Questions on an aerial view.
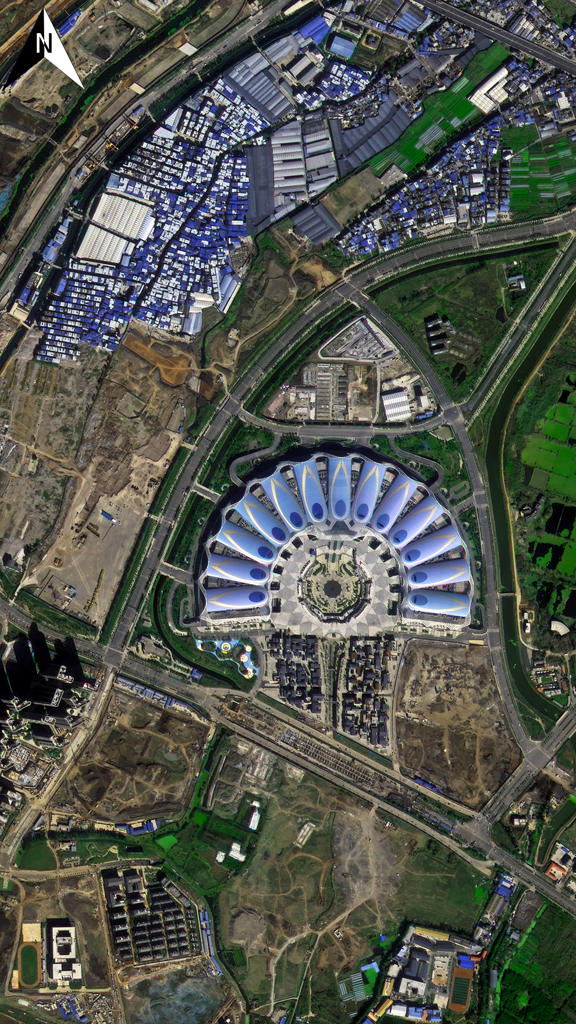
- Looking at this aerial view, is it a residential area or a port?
residential area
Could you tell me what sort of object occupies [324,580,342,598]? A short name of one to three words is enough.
fountain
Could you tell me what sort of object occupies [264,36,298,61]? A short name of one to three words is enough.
shed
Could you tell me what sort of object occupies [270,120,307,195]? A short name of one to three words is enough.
building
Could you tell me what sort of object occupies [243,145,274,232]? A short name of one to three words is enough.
building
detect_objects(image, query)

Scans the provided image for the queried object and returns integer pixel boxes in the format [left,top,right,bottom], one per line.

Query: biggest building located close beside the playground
[198,453,474,630]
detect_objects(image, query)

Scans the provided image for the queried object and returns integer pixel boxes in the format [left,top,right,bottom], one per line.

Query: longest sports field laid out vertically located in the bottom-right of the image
[449,968,473,1012]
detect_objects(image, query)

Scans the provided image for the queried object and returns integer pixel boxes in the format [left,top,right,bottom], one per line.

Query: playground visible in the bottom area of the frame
[192,635,258,680]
